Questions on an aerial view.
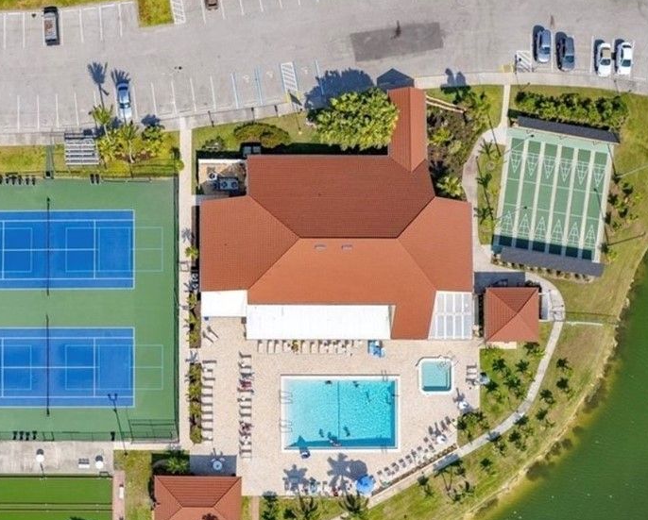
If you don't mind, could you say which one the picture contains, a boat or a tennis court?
tennis court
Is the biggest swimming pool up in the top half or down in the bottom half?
bottom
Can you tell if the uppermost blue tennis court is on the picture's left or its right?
left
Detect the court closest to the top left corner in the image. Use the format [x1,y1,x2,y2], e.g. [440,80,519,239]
[0,196,162,296]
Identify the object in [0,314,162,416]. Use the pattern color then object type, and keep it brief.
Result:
blue tennis court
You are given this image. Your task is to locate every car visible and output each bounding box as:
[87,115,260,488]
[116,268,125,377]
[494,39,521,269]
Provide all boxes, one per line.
[535,26,554,62]
[556,34,576,70]
[116,83,133,120]
[615,39,634,74]
[42,8,60,42]
[594,40,614,75]
[205,0,218,10]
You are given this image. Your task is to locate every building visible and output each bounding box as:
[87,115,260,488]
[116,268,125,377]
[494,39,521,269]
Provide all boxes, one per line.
[154,475,243,520]
[199,87,474,340]
[476,287,540,348]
